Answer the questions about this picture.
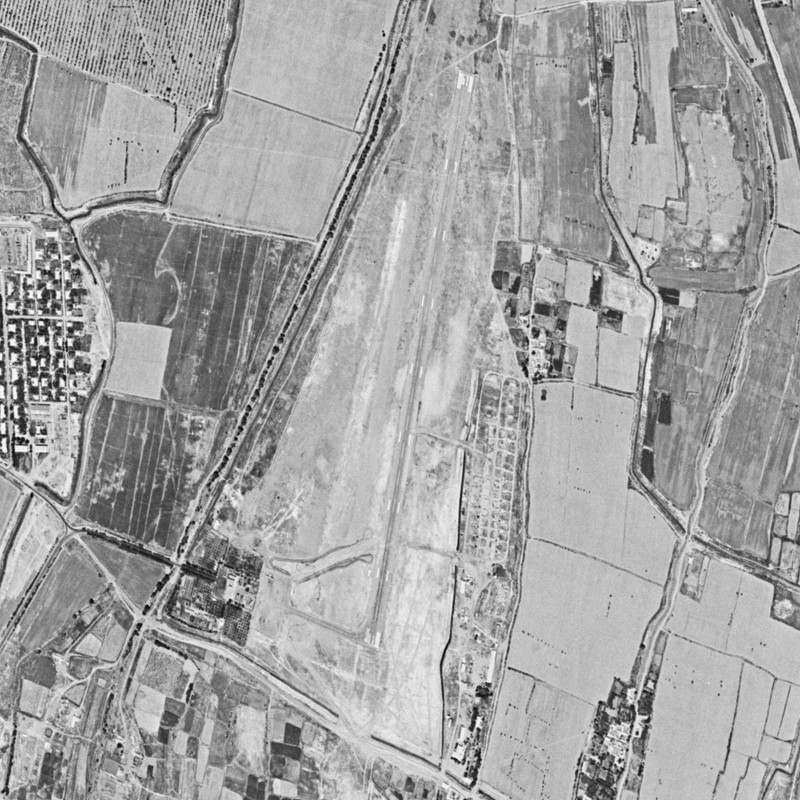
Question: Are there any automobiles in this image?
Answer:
No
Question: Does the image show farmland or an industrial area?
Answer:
farmland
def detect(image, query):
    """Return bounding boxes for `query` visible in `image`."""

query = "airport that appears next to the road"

[243,0,521,753]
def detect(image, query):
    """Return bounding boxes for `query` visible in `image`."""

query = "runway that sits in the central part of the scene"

[364,71,475,648]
